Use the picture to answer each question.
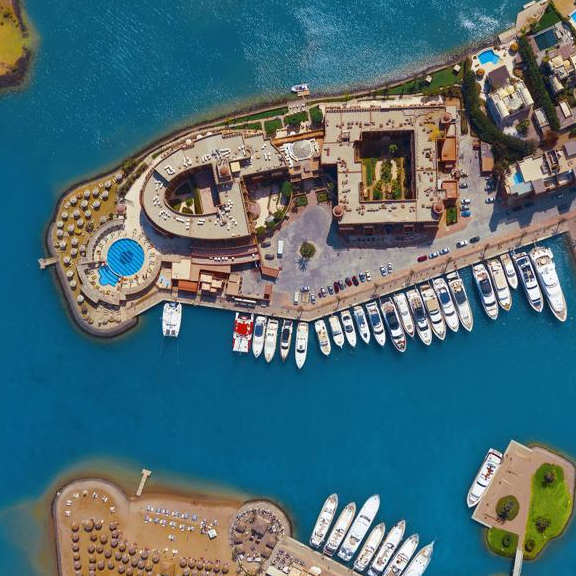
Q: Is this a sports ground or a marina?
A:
marina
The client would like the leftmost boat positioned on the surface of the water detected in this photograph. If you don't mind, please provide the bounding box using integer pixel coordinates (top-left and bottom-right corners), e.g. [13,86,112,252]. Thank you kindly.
[161,303,182,337]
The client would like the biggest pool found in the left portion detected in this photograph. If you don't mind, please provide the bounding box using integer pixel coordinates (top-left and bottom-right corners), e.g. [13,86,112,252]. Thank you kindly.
[106,238,145,277]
